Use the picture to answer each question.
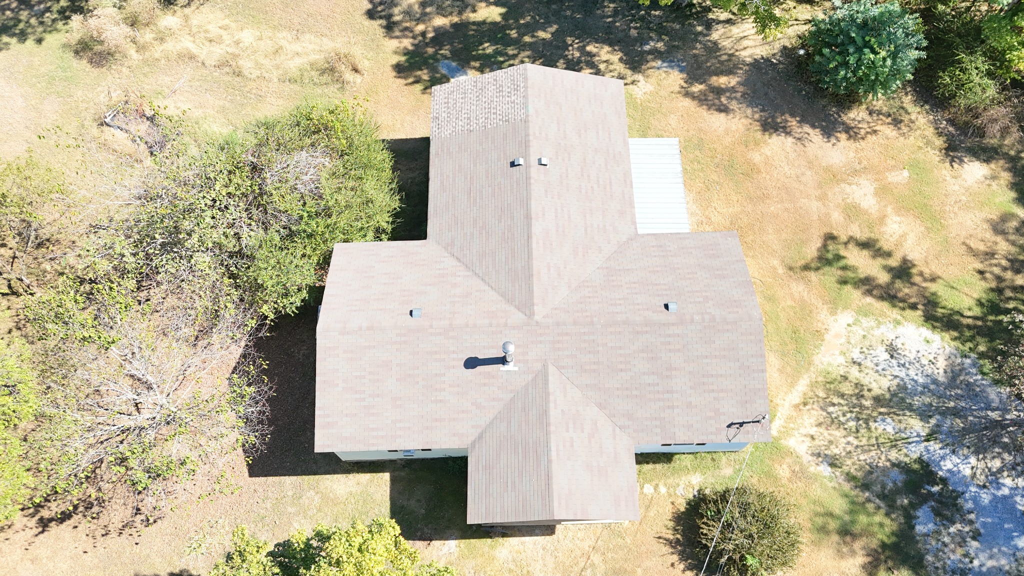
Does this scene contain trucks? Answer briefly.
No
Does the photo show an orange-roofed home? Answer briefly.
No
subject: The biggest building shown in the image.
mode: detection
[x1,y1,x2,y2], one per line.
[314,64,772,527]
